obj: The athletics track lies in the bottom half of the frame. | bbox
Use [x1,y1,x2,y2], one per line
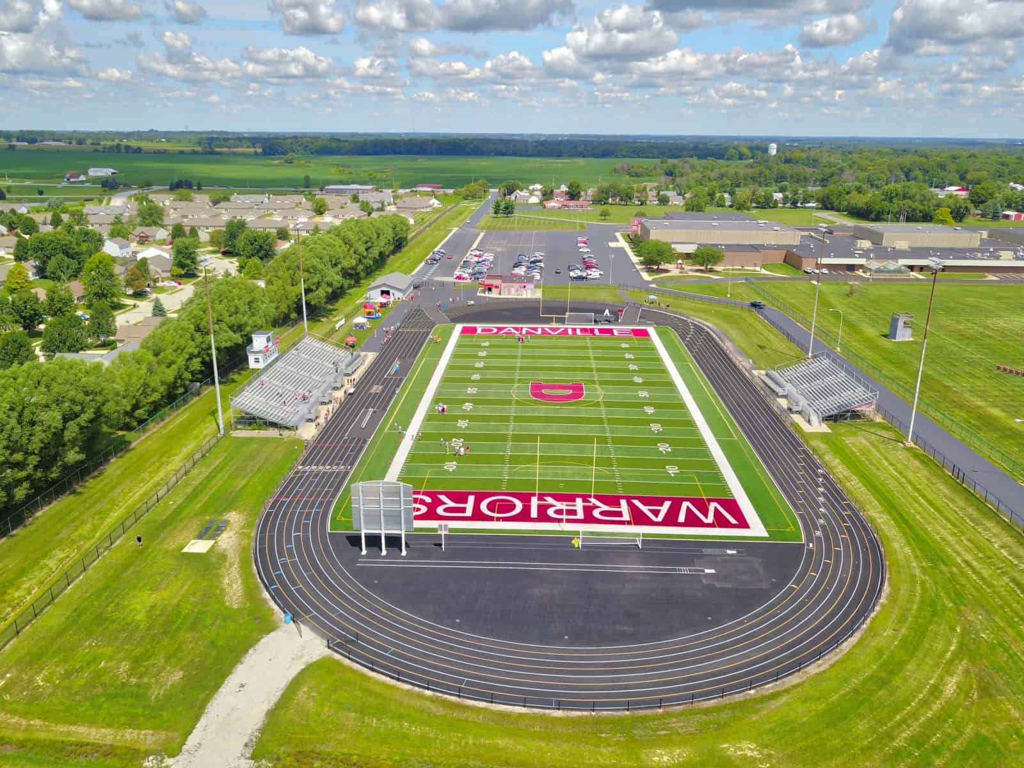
[253,300,887,711]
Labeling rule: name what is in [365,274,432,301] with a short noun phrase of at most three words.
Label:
building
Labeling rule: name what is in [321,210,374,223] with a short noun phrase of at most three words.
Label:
house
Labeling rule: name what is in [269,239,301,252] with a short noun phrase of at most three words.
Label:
house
